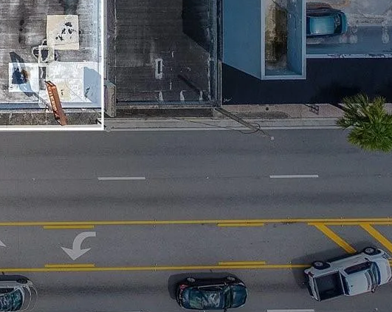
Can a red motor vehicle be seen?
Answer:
No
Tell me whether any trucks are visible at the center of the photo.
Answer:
No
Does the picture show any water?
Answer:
No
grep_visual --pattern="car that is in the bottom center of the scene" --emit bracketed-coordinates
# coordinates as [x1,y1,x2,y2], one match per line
[171,273,243,312]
